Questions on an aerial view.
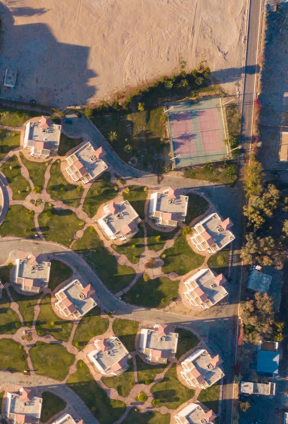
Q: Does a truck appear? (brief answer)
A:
No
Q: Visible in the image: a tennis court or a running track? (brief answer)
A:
tennis court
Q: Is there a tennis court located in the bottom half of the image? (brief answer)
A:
No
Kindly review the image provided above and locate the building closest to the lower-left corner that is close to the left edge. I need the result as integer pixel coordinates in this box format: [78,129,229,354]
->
[4,390,43,424]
